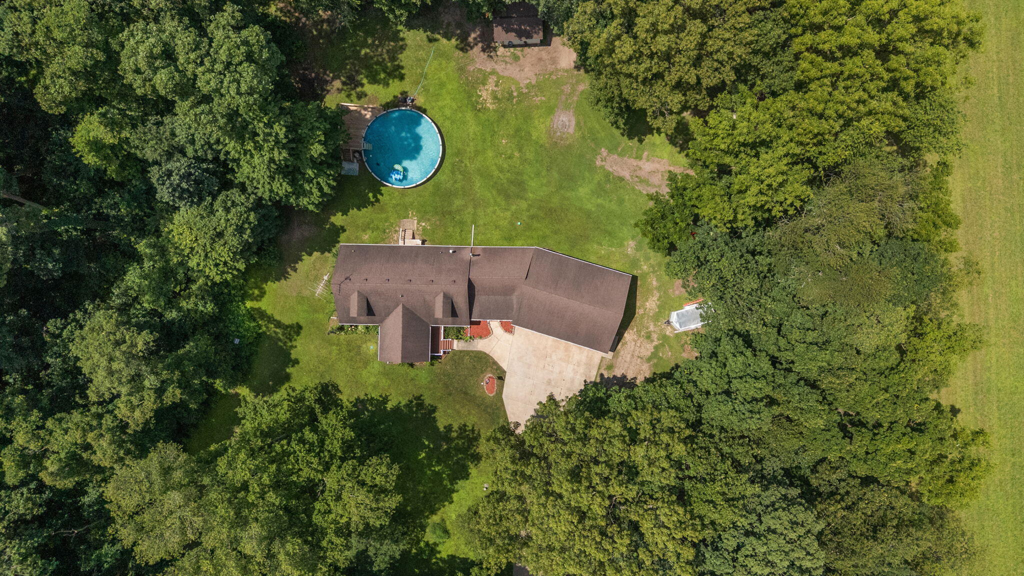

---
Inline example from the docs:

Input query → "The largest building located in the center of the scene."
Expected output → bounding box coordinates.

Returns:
[331,244,632,364]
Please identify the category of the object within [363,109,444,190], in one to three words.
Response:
swimming pool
